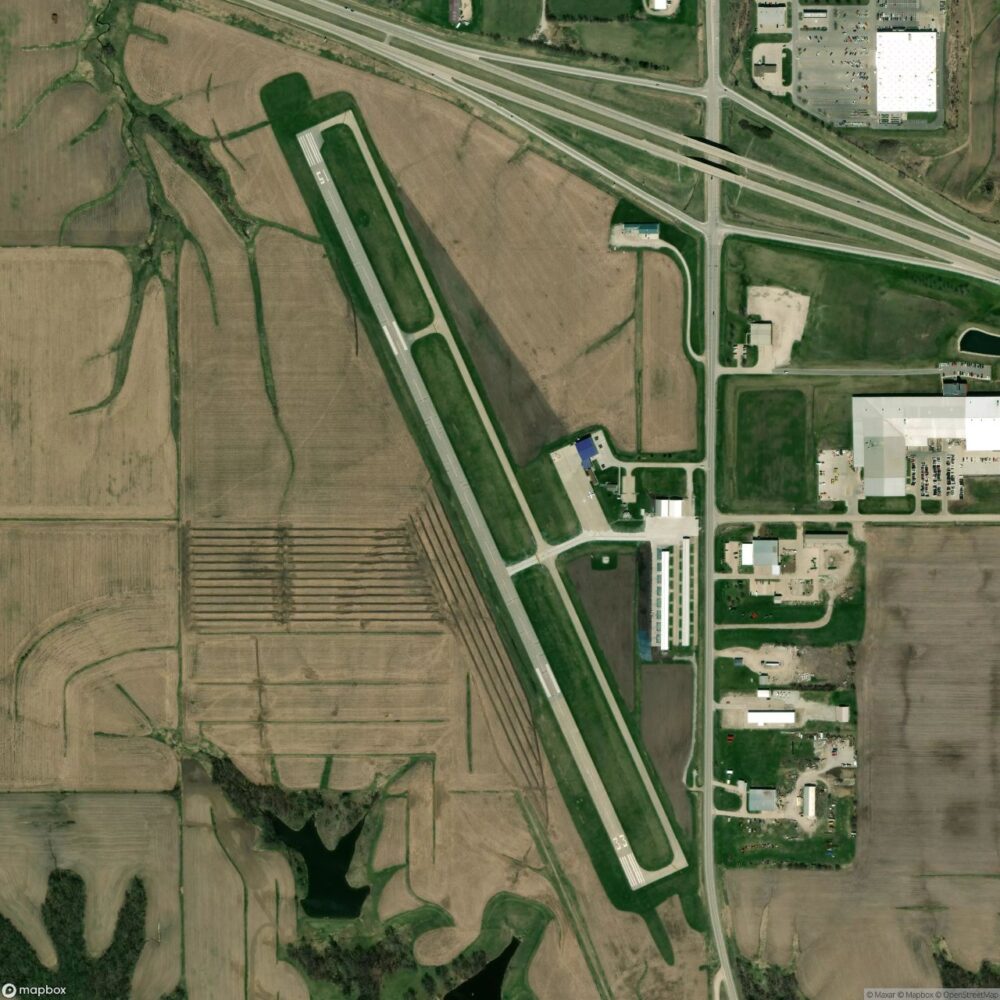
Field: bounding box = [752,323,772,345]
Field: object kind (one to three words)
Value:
building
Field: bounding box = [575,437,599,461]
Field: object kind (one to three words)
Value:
hangar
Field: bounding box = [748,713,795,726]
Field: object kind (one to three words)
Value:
barn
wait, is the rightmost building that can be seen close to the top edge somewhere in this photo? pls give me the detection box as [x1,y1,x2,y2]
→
[876,31,937,111]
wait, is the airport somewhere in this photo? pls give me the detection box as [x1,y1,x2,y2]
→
[296,110,698,890]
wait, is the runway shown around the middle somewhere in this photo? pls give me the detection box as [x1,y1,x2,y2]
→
[296,129,646,890]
